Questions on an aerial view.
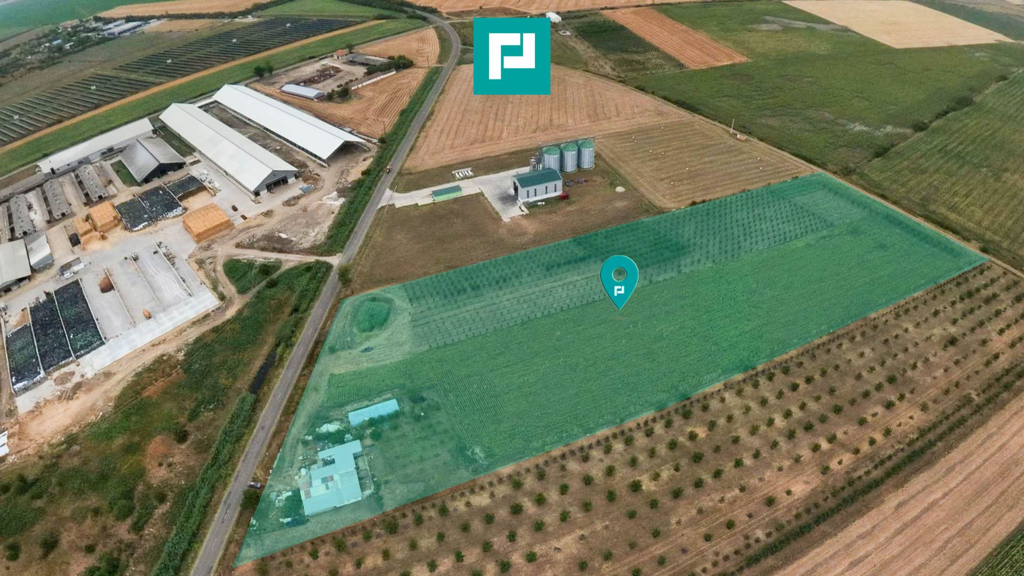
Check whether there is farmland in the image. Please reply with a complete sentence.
Yes, there's farmland in this view.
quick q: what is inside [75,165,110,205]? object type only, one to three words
shed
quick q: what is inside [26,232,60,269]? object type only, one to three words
barn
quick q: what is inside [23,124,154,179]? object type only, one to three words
building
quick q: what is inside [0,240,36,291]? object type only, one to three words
barn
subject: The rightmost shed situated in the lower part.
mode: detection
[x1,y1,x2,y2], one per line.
[349,399,399,428]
